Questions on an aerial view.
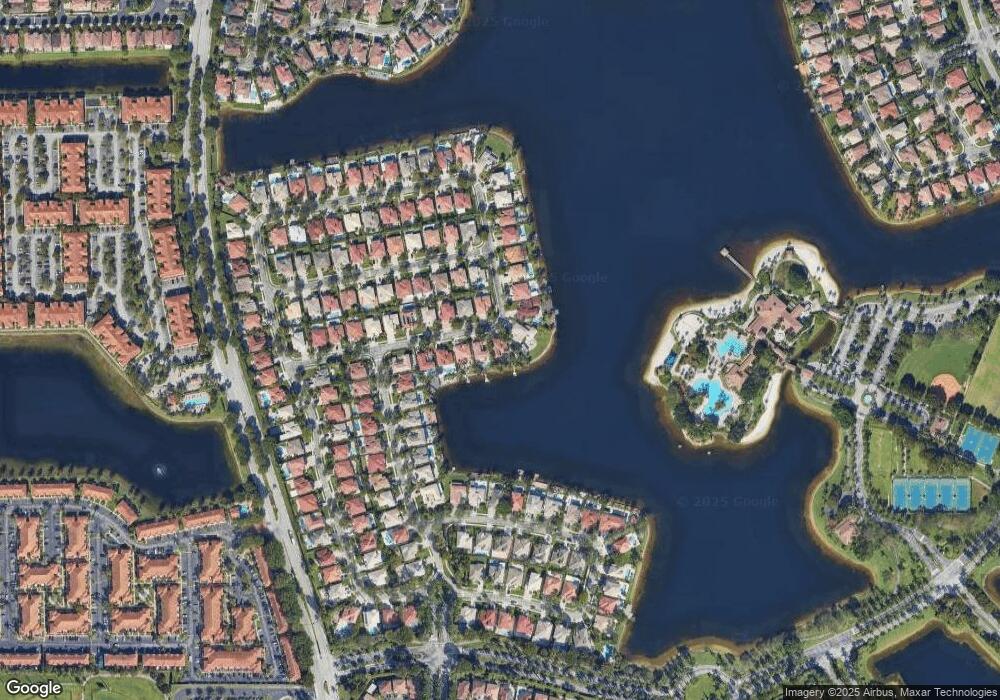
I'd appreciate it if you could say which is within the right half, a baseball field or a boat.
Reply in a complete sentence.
You can see a baseball field within the right half.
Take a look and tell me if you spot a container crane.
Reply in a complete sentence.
No, no container crane is visible in the scene.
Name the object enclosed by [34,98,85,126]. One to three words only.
building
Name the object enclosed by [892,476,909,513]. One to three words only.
tennis court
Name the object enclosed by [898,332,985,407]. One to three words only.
baseball field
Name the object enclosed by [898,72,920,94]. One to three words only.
house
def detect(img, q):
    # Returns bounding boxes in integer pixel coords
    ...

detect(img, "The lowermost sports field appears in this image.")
[869,426,893,500]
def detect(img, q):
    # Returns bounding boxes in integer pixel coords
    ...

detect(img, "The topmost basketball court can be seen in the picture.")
[957,421,1000,468]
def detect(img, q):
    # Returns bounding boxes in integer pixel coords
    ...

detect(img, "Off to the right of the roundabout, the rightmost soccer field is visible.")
[965,309,1000,420]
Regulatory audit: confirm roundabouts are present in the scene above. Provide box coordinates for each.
[852,376,895,420]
